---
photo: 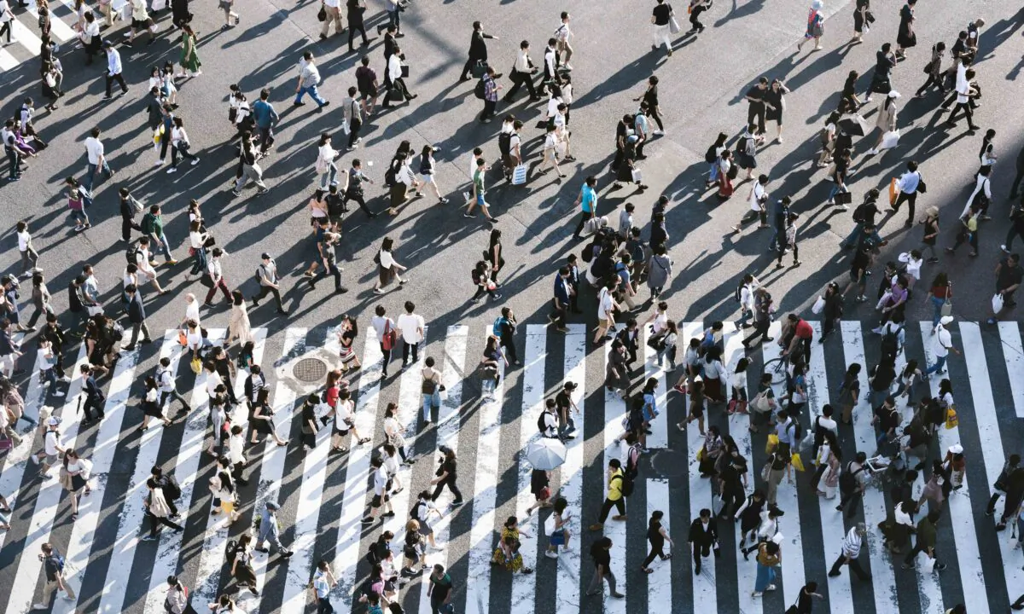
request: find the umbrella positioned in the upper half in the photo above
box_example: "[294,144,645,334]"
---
[842,114,873,147]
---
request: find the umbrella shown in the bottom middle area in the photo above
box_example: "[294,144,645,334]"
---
[527,442,568,484]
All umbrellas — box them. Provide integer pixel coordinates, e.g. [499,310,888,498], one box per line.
[527,442,568,484]
[842,114,873,147]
